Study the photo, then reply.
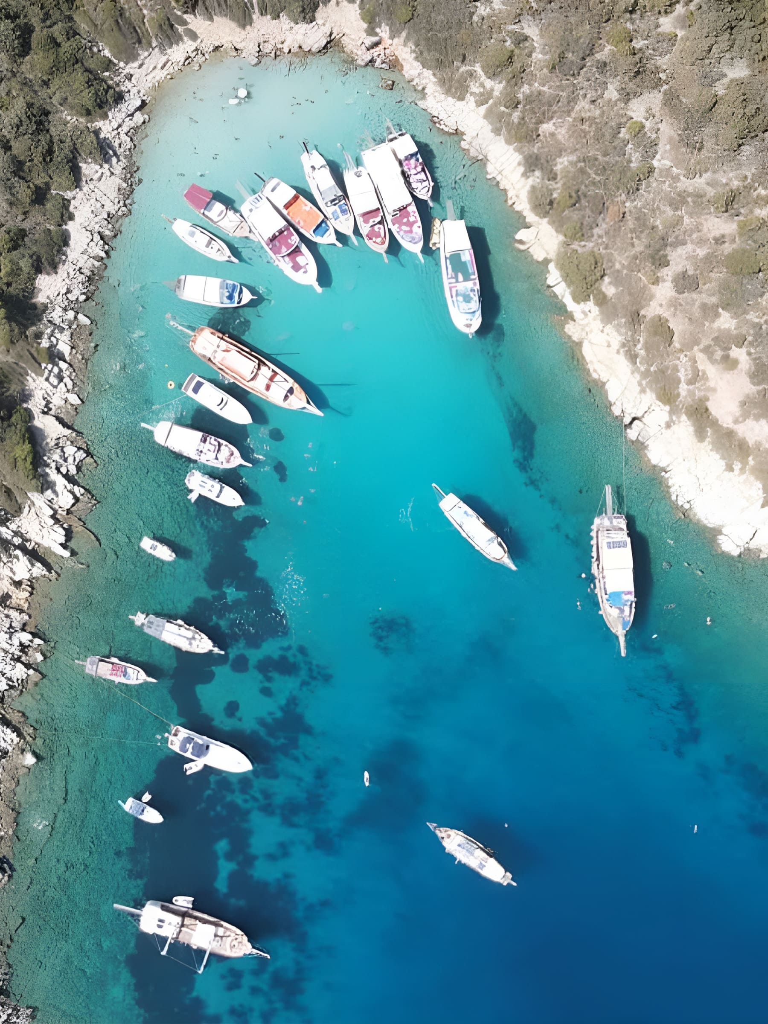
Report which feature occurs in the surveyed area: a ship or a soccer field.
ship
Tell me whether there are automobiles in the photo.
No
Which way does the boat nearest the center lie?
at an angle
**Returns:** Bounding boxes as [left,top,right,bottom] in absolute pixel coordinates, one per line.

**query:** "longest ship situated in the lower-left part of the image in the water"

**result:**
[113,898,270,972]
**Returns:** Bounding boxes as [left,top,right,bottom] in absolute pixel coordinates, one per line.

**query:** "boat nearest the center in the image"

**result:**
[433,484,518,570]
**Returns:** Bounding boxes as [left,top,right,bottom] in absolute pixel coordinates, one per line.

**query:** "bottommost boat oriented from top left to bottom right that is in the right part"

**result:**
[426,822,517,886]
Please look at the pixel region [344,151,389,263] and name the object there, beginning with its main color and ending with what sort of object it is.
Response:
white boat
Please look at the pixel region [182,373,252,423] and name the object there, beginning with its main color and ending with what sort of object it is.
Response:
white boat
